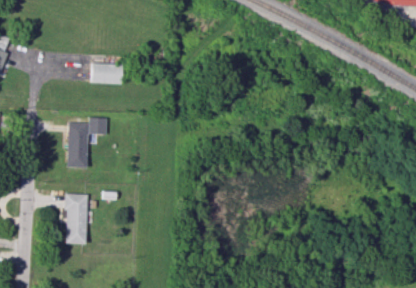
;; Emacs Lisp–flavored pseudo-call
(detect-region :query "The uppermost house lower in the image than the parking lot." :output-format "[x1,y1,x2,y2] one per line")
[68,118,108,168]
